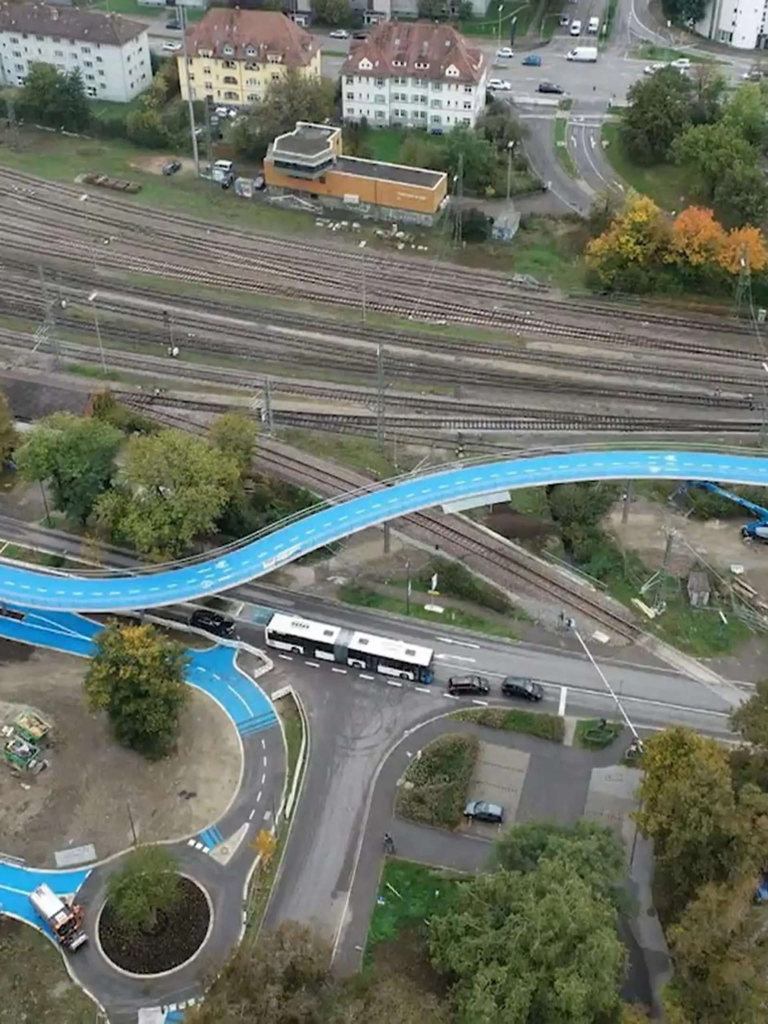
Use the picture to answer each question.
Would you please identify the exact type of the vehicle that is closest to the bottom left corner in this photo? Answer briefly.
truck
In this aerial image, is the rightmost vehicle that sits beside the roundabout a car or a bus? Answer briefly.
bus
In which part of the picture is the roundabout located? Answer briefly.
bottom left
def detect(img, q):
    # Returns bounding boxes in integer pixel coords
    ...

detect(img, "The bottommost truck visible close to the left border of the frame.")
[27,879,87,955]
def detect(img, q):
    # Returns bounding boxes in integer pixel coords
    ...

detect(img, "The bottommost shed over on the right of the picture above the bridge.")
[493,205,527,242]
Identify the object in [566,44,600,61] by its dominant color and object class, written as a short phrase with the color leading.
white vehicle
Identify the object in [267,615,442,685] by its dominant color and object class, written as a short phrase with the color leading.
white bus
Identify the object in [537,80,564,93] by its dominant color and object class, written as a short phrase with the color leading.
gray vehicle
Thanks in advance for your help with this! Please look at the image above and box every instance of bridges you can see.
[0,440,768,627]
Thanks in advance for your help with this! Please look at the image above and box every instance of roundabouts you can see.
[60,718,286,1024]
